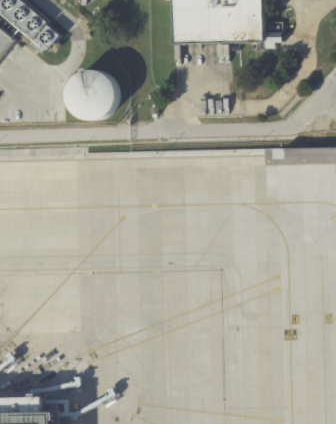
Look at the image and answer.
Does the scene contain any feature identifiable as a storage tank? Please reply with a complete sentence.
Yes, the picture does show a storage tank.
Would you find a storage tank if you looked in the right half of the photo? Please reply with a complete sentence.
No, I see no storage tank in the right half of the photo.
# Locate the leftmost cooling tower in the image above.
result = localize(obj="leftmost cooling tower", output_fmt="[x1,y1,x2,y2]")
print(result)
[0,0,62,52]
